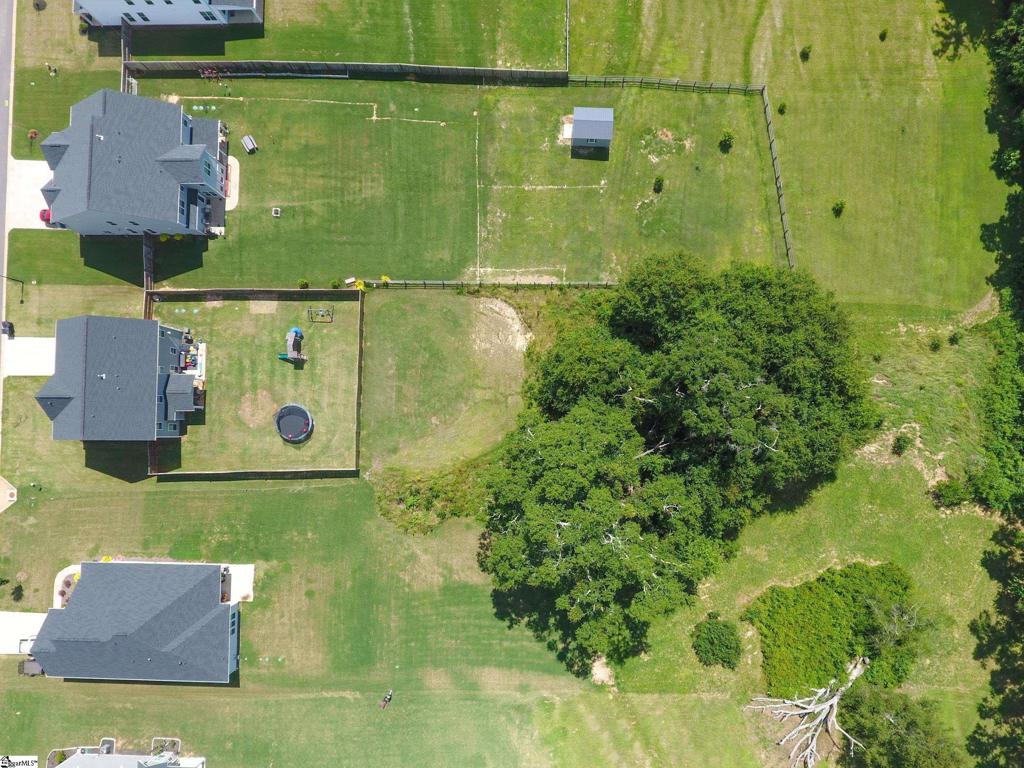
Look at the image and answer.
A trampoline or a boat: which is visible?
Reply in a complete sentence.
Of the two, only a trampoline appears.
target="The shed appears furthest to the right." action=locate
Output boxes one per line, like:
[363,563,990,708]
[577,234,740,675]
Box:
[571,109,615,147]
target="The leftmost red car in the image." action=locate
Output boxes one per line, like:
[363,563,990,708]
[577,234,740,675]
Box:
[40,209,55,225]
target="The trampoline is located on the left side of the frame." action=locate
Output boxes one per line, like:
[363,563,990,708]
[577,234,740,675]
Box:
[272,403,315,440]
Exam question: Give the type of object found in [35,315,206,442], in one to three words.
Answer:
house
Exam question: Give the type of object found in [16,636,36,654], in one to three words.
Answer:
vehicle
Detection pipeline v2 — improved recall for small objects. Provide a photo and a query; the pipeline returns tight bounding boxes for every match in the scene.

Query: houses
[59,752,204,768]
[35,315,206,442]
[30,559,238,684]
[40,89,228,236]
[69,0,267,25]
